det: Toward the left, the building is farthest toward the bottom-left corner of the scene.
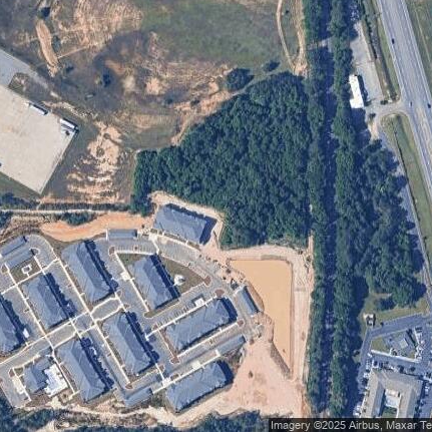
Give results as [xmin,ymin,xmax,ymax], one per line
[22,355,52,392]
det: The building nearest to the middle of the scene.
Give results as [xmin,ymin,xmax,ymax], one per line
[153,207,210,244]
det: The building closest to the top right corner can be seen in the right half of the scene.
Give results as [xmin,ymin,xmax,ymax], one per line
[350,75,365,109]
